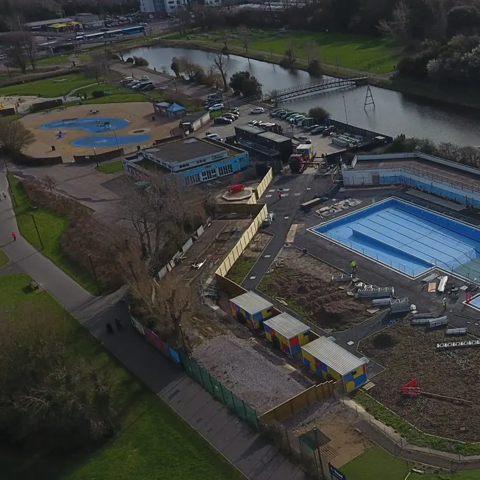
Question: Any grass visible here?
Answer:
Yes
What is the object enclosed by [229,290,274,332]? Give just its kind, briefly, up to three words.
building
